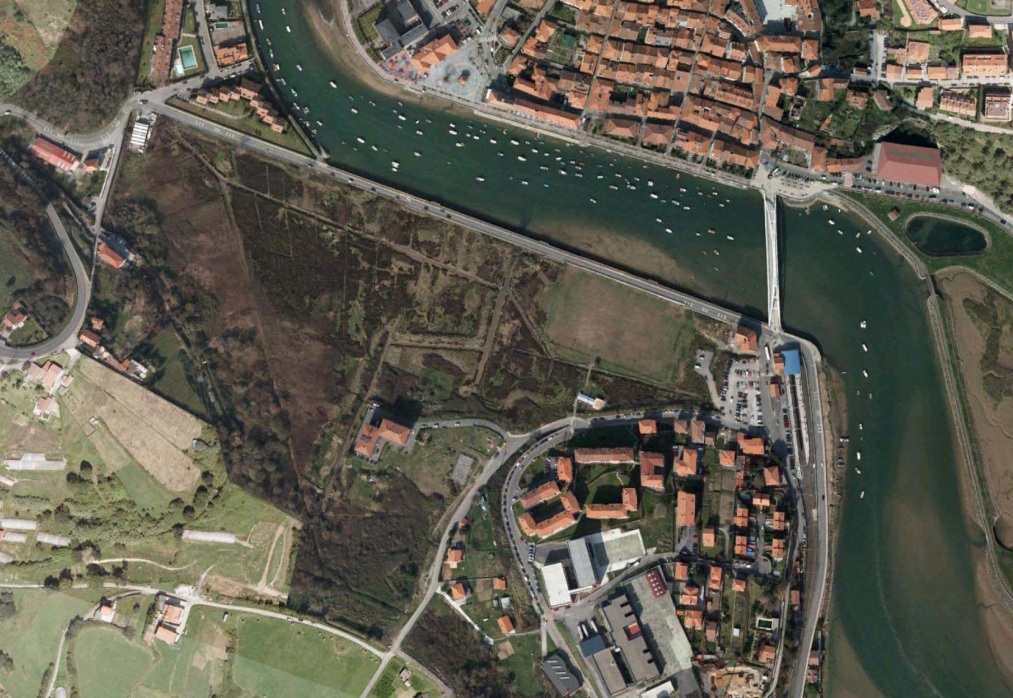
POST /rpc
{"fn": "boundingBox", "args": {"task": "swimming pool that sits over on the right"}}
[756,617,779,630]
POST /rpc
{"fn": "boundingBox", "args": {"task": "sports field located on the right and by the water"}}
[540,265,688,383]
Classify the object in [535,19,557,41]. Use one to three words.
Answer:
house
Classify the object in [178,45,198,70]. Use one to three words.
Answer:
swimming pool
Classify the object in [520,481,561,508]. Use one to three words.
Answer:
building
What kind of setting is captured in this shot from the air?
residential area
